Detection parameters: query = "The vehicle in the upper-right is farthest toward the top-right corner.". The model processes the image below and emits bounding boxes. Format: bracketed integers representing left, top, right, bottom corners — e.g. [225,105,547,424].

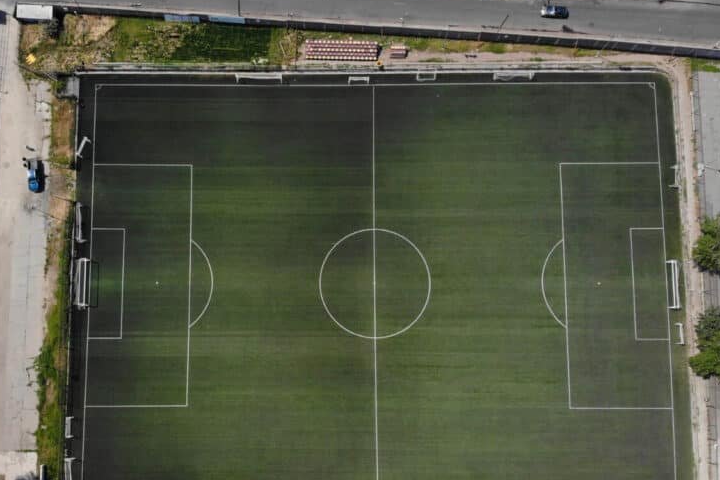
[541,4,569,18]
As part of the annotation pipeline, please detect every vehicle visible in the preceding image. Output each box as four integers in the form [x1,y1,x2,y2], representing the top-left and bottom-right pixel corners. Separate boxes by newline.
[26,158,41,190]
[541,4,569,18]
